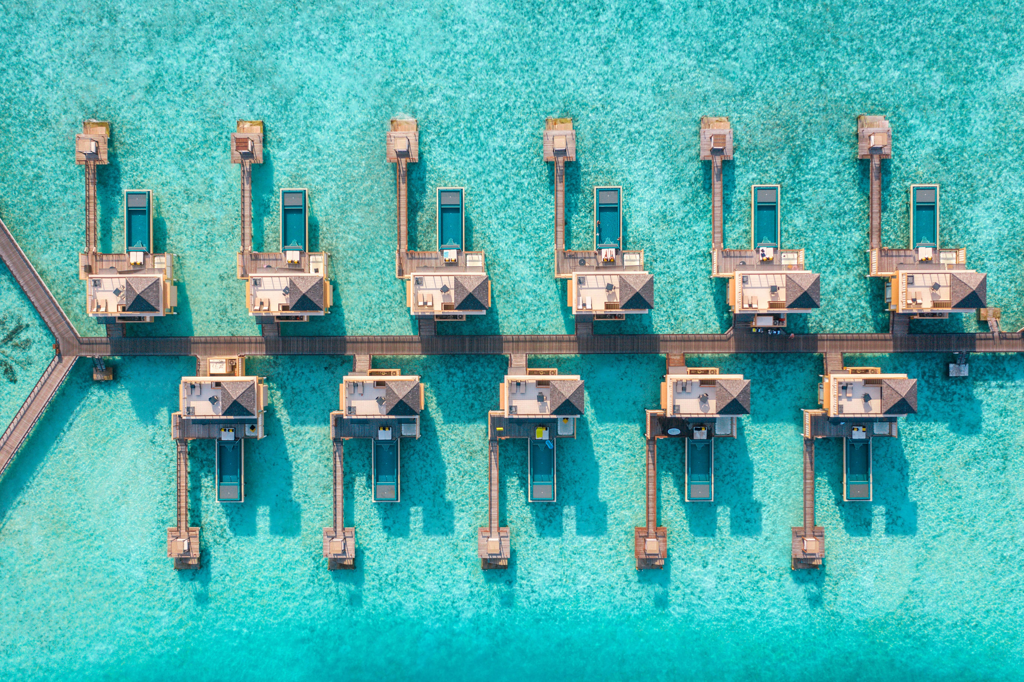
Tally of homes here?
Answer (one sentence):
In total, there are 11 homes in the scene.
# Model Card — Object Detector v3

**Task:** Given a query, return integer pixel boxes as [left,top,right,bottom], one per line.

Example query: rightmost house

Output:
[864,247,987,322]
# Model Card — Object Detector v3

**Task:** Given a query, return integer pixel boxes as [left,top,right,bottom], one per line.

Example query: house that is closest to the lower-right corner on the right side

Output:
[798,364,917,439]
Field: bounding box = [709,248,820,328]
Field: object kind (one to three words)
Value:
house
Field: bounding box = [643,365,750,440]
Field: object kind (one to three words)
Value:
house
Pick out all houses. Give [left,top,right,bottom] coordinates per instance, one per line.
[864,247,987,322]
[395,249,492,324]
[488,366,585,440]
[236,250,334,325]
[709,248,820,328]
[329,367,426,441]
[798,364,917,439]
[170,356,269,442]
[78,251,180,325]
[643,365,750,440]
[554,248,654,323]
